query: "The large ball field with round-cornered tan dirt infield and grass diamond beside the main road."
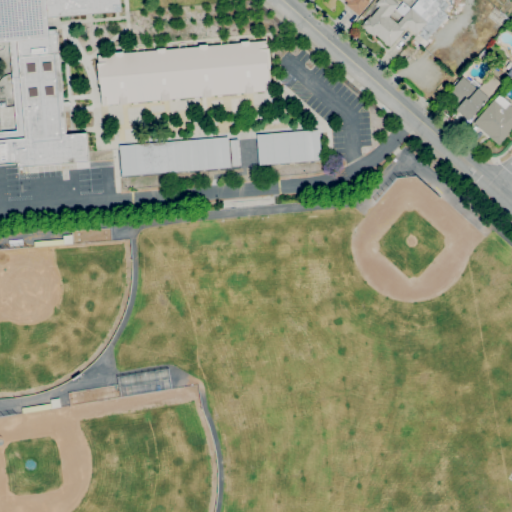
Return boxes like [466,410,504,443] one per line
[116,175,512,512]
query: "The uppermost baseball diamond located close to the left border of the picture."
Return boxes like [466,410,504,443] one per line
[0,240,131,398]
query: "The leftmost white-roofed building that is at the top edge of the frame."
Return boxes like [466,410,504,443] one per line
[0,0,121,168]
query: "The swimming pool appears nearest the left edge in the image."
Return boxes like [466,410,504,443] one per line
[464,66,491,87]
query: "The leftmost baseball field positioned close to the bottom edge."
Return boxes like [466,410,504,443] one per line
[0,387,217,512]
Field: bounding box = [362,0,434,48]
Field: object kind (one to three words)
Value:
house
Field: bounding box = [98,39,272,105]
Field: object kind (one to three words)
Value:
building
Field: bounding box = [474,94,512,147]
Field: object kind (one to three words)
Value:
house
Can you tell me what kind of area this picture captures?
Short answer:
sports ground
